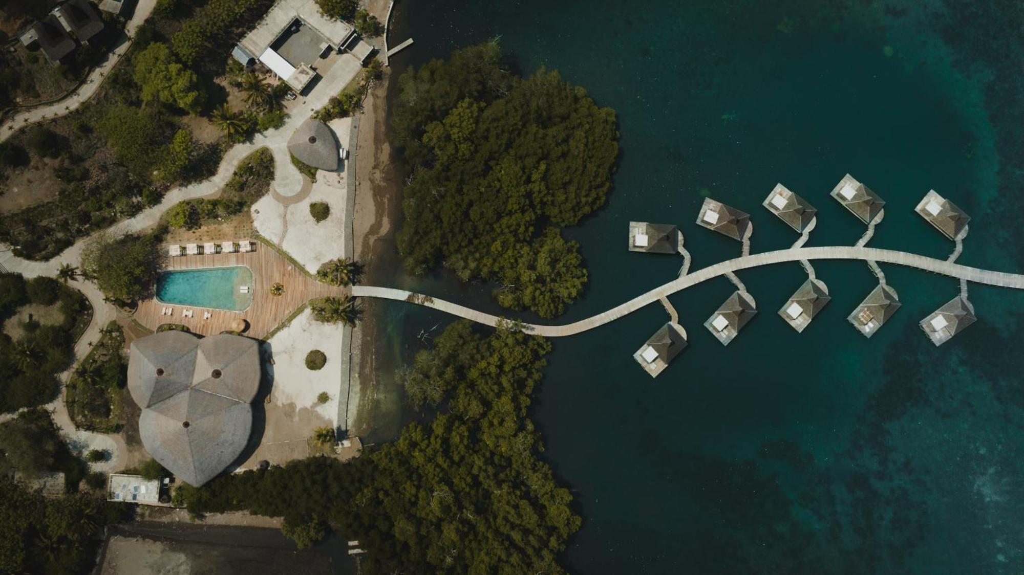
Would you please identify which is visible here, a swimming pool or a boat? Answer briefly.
swimming pool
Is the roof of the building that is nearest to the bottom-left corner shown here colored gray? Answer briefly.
Yes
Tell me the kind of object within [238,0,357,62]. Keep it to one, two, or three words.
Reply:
building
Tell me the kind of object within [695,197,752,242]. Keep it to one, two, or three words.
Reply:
house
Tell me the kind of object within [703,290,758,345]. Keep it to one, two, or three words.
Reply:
house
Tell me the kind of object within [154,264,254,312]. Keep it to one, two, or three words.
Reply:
swimming pool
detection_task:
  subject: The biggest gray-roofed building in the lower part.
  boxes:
[127,330,260,488]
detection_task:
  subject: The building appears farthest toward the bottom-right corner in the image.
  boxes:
[918,296,978,346]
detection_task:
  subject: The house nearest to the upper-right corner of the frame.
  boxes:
[912,189,972,242]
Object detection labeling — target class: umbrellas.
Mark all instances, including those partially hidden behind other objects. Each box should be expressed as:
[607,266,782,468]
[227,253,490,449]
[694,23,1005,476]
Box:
[231,319,244,332]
